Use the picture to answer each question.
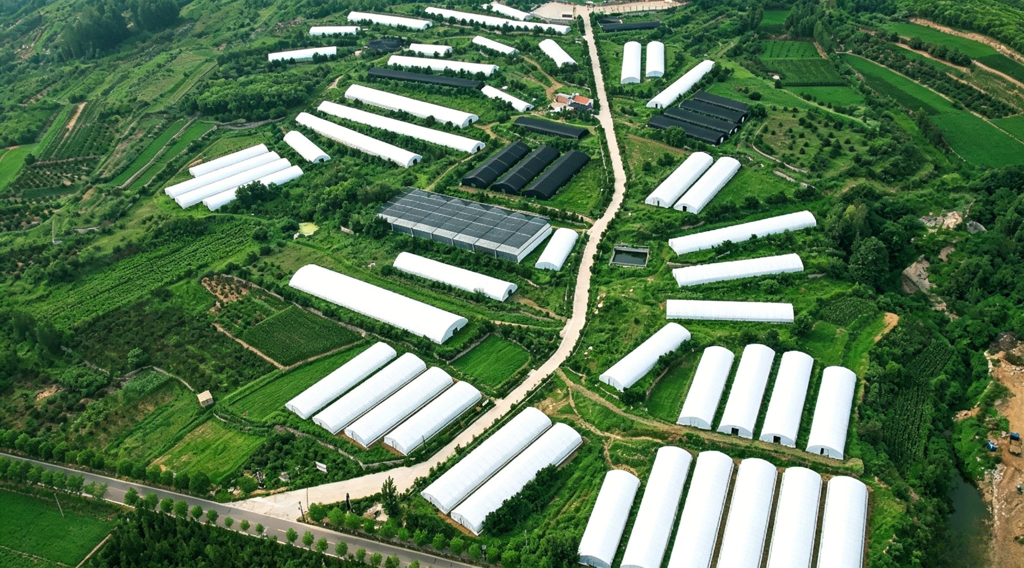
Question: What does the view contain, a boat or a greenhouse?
greenhouse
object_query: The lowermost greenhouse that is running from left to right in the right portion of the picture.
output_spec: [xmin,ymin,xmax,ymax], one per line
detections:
[666,298,795,323]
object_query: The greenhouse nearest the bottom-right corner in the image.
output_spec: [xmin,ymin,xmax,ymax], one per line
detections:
[820,470,872,568]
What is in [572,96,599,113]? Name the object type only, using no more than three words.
house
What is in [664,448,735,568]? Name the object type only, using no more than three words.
greenhouse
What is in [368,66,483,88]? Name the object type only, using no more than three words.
greenhouse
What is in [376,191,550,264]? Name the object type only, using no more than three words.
building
